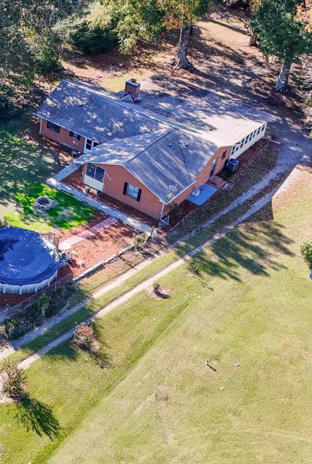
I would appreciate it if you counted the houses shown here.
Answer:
1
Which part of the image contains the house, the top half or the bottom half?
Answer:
top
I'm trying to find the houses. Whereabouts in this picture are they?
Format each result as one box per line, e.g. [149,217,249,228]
[28,76,277,221]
